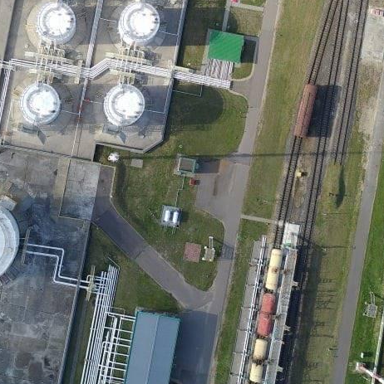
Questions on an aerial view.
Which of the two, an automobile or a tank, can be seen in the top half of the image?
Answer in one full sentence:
It is a tank that can be seen in the top half of the image.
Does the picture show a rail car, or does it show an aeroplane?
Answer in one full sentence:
I can see a rail car in this picture.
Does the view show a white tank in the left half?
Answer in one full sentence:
Yes, you'll find a white tank in the left half.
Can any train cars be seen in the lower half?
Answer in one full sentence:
Yes, there is a train car in the lower half.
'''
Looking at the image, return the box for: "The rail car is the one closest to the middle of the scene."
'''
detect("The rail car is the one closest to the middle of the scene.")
[265,246,285,291]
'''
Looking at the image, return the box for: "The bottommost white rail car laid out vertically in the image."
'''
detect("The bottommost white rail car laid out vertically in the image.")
[246,335,267,382]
